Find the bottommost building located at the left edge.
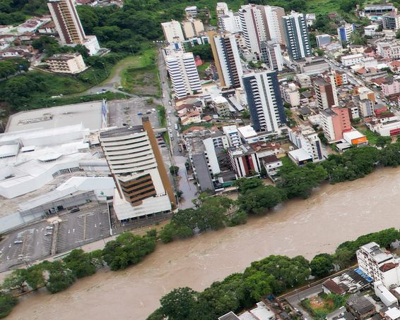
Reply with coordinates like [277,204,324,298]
[0,97,118,238]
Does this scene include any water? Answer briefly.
Yes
